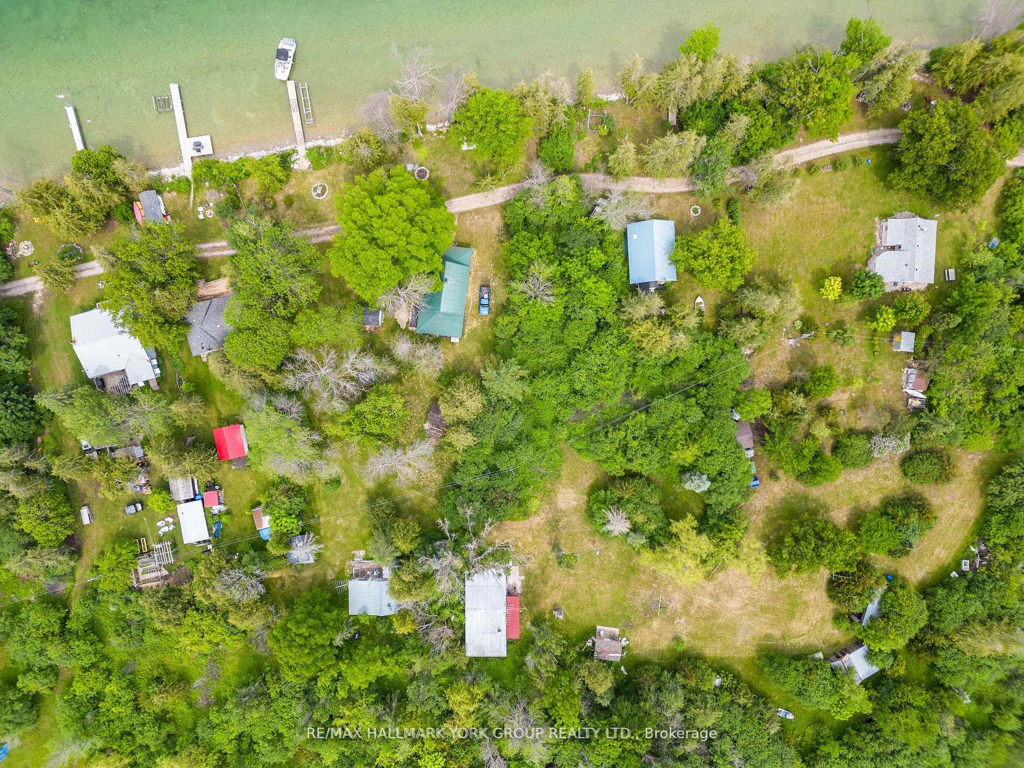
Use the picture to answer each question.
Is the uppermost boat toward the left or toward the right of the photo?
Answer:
left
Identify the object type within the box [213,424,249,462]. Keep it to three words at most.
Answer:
shed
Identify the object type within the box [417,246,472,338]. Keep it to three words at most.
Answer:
house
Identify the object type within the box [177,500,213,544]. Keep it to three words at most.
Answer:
building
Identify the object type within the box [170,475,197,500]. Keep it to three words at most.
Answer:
shed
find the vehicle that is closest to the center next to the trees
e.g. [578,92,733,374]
[477,284,491,316]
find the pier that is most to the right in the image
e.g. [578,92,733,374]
[287,80,306,154]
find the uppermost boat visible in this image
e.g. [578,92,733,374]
[276,35,296,80]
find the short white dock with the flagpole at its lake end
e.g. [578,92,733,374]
[66,106,85,155]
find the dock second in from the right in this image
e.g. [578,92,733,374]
[169,83,213,178]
